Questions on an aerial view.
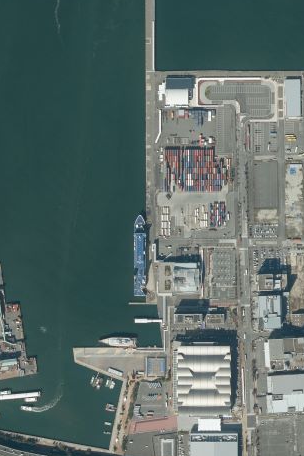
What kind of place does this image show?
port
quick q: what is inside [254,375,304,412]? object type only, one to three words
building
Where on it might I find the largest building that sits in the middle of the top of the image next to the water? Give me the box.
[158,77,191,107]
